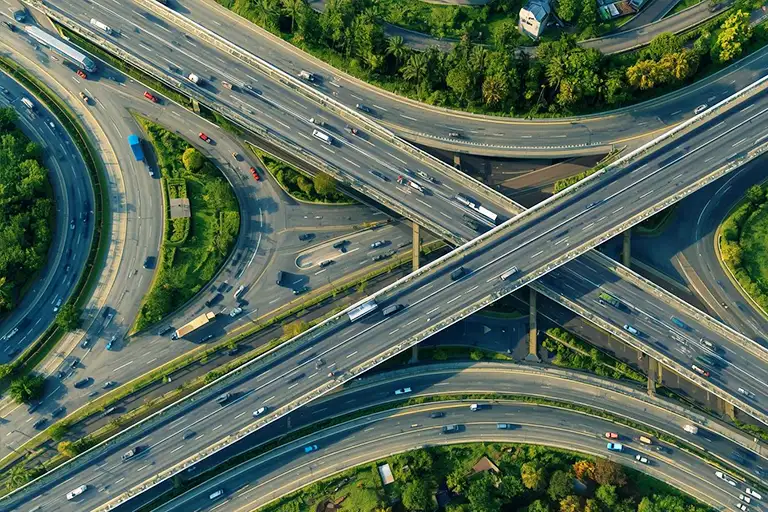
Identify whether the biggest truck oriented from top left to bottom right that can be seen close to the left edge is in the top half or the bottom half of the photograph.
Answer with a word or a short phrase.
top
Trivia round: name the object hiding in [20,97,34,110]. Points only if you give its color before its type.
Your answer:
white vehicle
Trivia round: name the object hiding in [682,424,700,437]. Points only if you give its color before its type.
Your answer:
white vehicle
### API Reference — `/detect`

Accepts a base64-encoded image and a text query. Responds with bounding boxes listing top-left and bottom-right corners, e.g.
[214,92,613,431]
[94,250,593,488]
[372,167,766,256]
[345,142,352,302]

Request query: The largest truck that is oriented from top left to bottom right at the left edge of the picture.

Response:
[27,24,94,73]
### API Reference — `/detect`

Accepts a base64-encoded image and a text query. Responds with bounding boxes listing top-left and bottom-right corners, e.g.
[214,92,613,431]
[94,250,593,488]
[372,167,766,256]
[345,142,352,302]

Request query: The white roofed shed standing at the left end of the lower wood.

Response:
[379,463,398,489]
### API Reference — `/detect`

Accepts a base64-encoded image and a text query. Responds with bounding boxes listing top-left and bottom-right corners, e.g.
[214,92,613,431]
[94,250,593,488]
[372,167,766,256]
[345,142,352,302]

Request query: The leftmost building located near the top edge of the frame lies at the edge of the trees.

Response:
[518,0,557,40]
